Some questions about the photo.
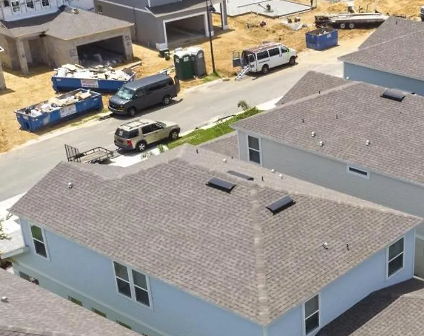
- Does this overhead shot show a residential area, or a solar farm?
residential area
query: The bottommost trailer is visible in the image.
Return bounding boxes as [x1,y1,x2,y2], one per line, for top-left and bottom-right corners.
[65,135,120,163]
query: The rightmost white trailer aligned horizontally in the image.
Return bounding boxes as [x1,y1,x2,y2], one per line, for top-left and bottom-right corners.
[308,10,400,27]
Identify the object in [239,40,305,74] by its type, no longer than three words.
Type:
van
